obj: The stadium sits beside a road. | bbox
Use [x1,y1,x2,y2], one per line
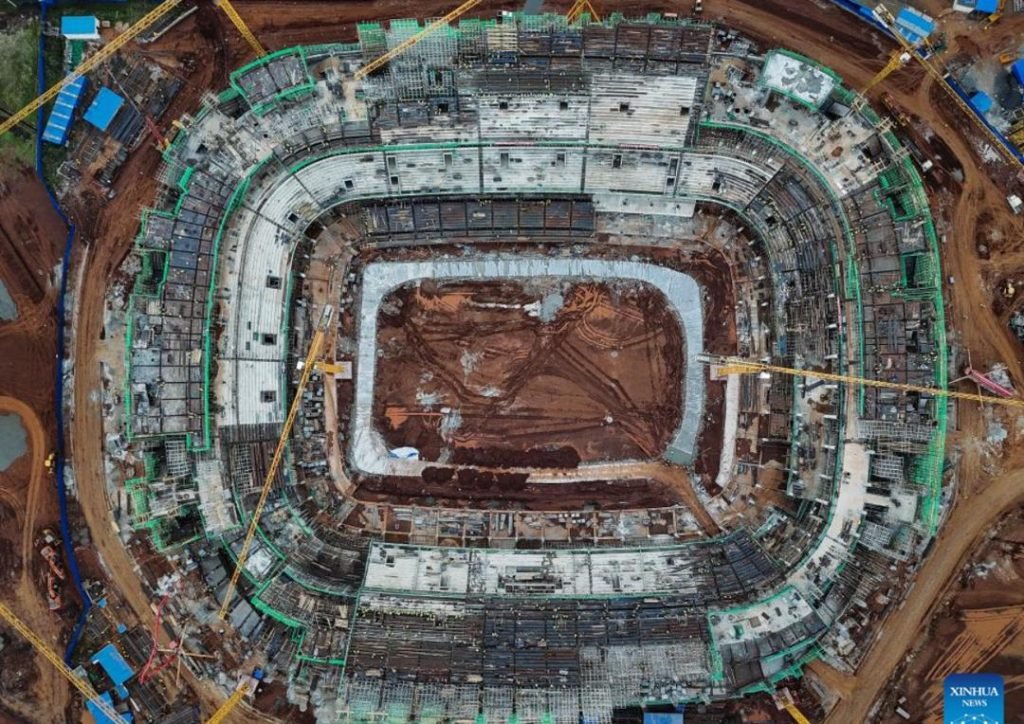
[124,27,945,703]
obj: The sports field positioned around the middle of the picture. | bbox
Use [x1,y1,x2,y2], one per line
[352,256,708,486]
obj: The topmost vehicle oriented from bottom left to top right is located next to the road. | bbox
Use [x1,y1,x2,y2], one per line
[982,9,1004,26]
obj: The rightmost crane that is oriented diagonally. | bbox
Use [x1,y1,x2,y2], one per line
[855,7,1024,165]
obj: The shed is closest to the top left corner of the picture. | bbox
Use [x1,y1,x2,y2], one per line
[62,16,100,41]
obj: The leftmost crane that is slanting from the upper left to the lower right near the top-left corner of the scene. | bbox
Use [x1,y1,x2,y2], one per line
[77,42,170,155]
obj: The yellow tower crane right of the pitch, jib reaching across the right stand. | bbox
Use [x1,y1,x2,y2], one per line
[694,362,1024,407]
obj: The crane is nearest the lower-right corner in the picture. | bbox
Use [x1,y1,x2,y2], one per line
[776,687,812,724]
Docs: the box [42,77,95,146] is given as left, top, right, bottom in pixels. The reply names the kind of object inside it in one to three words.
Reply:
shed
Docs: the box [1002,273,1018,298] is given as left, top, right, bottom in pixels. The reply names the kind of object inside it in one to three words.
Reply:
work vehicle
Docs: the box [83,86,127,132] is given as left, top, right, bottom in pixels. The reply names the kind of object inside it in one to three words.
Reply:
shed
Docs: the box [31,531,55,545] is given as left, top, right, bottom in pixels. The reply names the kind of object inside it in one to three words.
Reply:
work vehicle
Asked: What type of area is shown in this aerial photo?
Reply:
sports ground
